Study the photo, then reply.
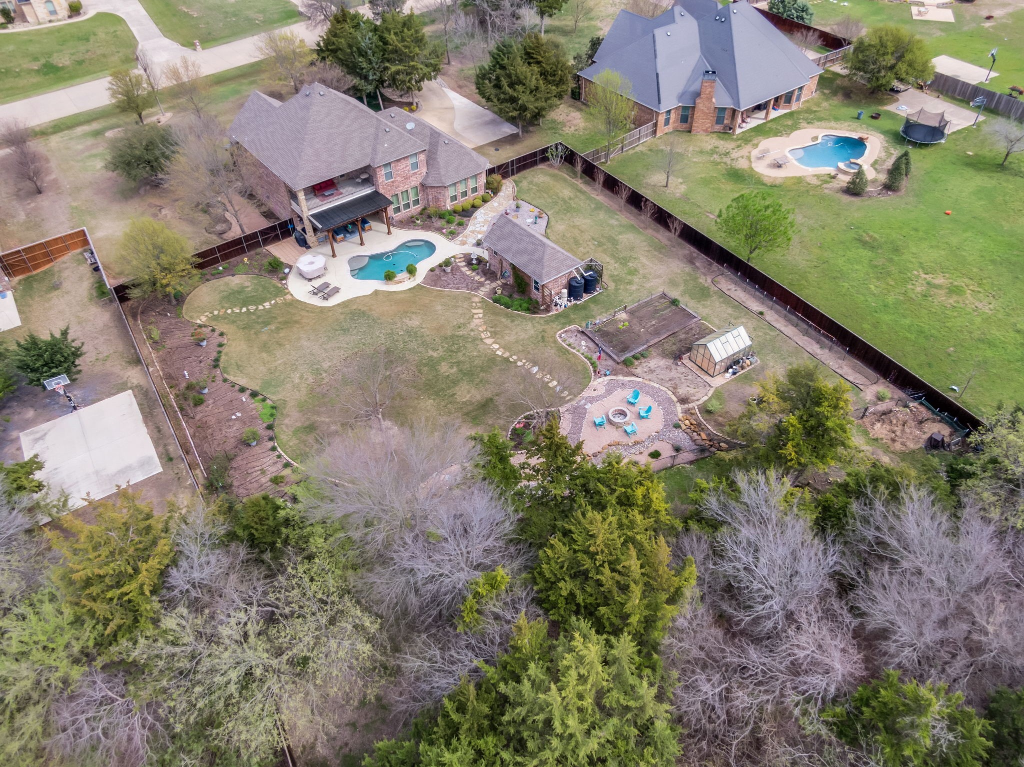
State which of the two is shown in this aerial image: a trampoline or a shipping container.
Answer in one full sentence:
Visible in the photo is a trampoline.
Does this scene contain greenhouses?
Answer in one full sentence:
Yes, looking at the shot, I can spot a greenhouse.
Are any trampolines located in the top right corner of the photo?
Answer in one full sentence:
Yes, you'll find a trampoline in the top right corner of the photo.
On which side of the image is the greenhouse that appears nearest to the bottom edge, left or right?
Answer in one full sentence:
The greenhouse that appears nearest to the bottom edge is on the right side of the image.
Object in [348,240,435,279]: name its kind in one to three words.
swimming pool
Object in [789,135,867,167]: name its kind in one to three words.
swimming pool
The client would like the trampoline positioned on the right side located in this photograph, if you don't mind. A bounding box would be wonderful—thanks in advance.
[900,106,952,150]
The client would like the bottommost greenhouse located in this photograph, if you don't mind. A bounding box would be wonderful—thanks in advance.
[689,321,759,377]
